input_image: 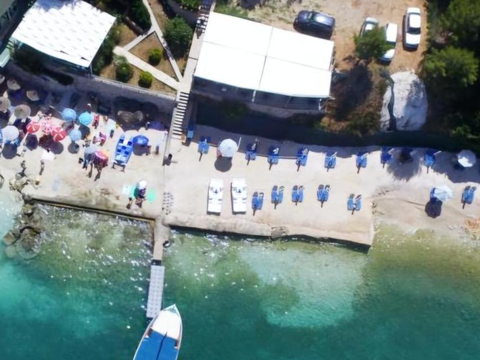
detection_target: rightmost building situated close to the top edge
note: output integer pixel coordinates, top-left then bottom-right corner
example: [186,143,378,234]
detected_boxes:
[193,10,335,114]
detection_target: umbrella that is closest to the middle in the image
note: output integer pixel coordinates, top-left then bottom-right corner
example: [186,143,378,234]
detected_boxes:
[218,139,236,158]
